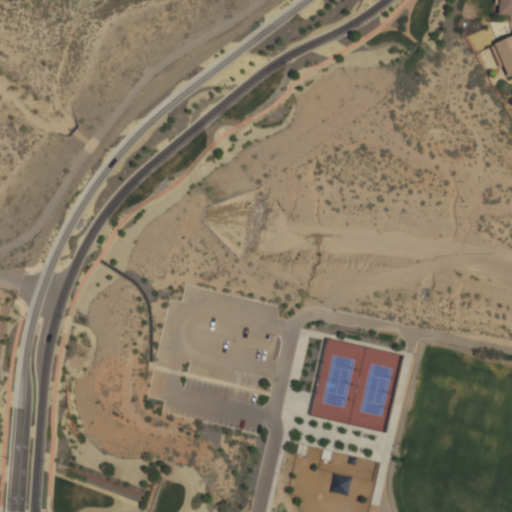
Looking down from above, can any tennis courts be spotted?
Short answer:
Yes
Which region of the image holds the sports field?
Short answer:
bottom right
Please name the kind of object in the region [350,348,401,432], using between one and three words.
tennis court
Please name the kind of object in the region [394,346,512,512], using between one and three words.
sports field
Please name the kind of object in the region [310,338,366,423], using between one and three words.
tennis court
